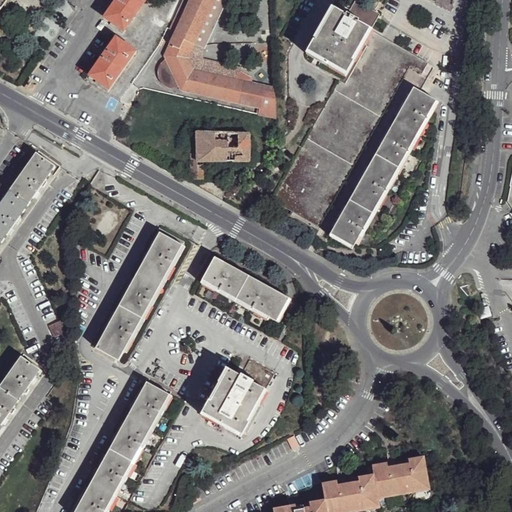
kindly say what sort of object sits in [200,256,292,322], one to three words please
building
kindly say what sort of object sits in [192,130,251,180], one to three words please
house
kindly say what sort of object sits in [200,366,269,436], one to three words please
building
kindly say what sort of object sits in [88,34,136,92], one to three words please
house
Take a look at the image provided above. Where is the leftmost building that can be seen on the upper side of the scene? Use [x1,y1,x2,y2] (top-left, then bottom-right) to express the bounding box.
[0,152,60,250]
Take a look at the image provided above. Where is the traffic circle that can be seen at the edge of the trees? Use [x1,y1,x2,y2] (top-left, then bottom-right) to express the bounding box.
[350,272,447,371]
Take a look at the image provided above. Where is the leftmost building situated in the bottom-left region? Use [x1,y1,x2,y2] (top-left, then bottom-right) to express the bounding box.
[0,355,44,427]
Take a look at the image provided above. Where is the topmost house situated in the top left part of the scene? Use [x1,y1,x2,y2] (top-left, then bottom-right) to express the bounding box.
[102,0,146,32]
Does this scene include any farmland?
No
